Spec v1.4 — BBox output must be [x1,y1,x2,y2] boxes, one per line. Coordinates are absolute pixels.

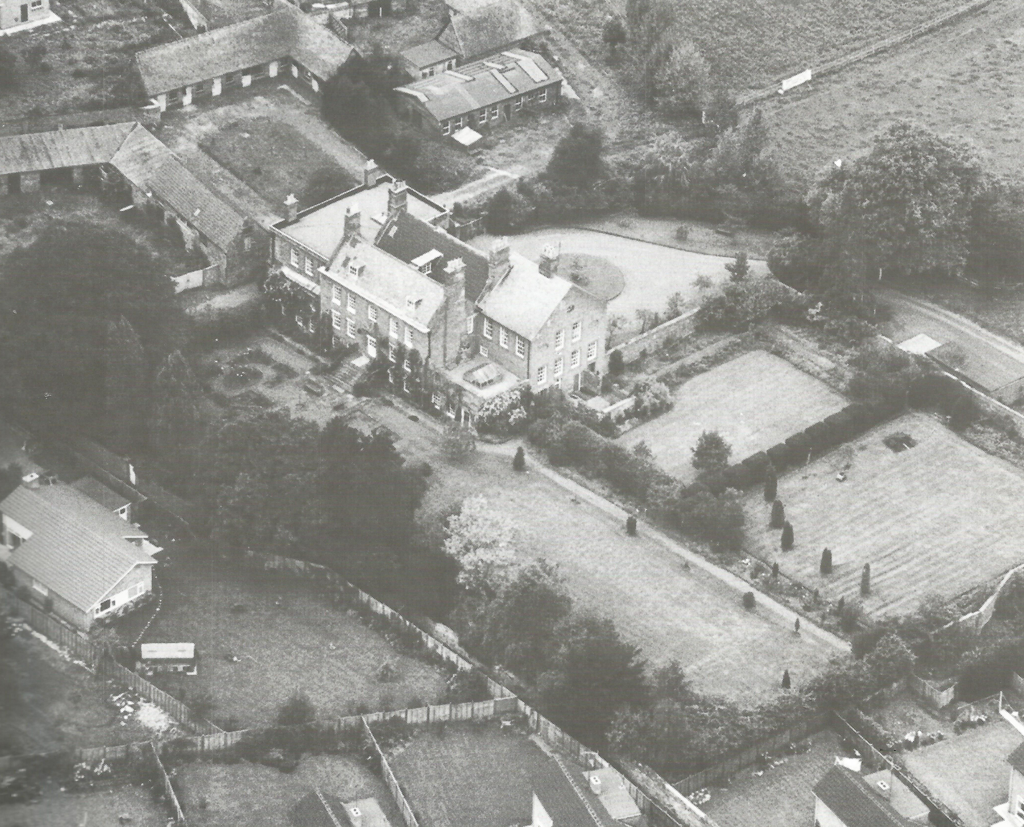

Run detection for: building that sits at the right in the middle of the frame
[898,332,941,369]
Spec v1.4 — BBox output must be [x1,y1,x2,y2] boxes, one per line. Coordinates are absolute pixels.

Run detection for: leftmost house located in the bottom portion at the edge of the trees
[0,475,164,630]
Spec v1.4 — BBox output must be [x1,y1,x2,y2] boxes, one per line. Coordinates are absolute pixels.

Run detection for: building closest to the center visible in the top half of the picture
[268,174,614,439]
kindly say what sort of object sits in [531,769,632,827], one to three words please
house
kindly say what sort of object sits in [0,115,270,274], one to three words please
shed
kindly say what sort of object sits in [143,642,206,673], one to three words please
camper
